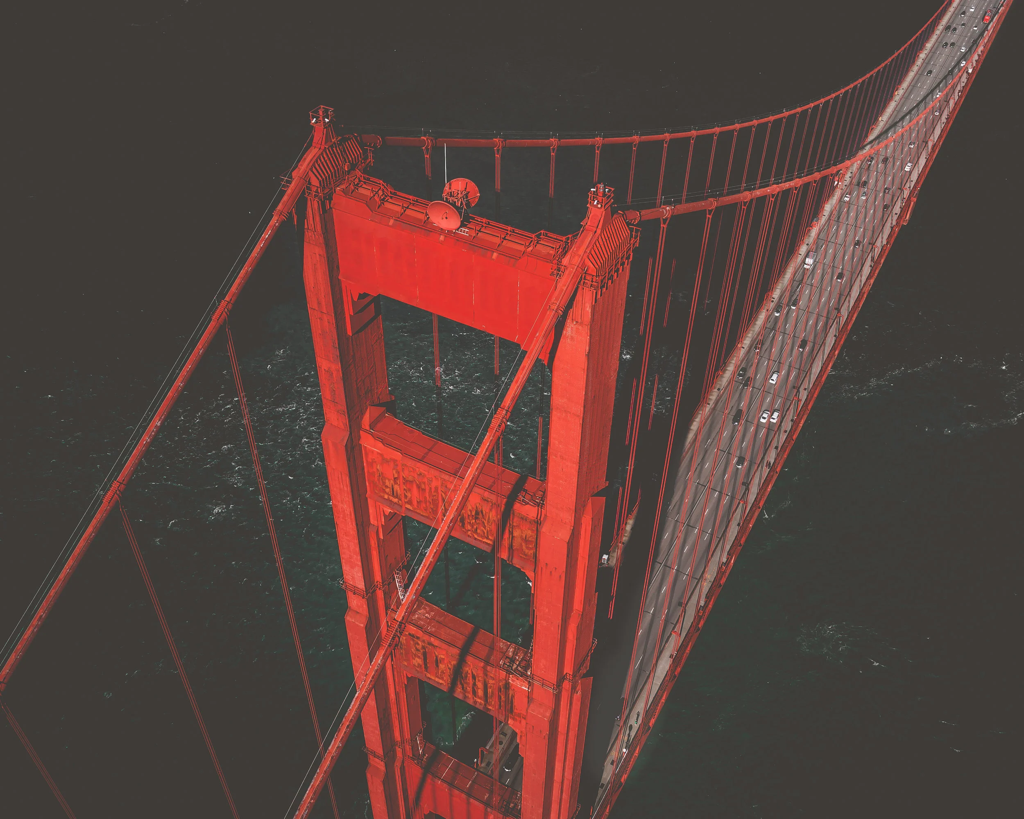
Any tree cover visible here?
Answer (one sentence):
No, there is no tree cover in the image.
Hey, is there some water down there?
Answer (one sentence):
Yes, water can be seen from above here.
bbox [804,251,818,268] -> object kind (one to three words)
vehicle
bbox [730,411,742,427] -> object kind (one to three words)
vehicle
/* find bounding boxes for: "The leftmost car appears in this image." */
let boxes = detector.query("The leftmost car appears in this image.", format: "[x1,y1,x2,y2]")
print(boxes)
[503,745,521,771]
